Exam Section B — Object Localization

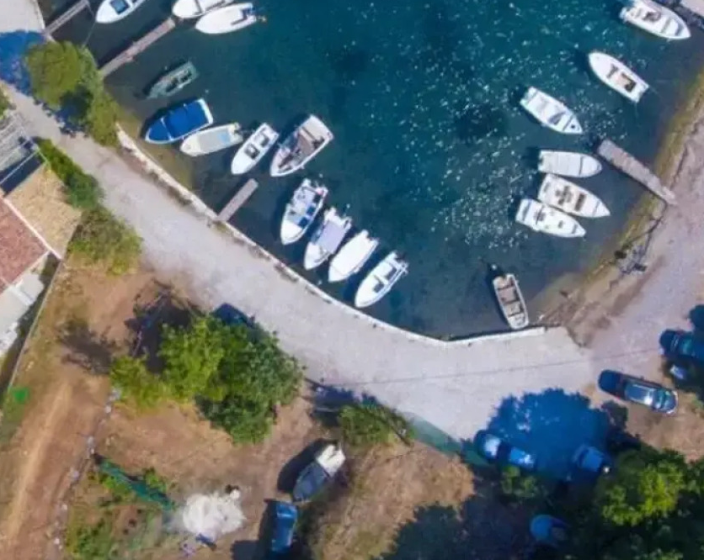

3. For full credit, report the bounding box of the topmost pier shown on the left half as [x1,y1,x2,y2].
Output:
[46,0,92,33]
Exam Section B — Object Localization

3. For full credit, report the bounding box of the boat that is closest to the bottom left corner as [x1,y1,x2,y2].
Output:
[292,441,347,503]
